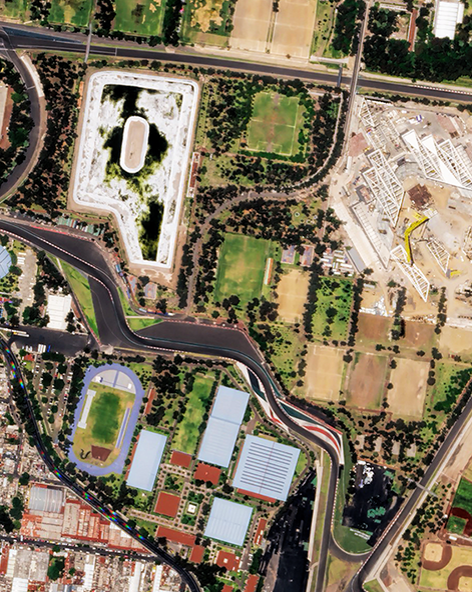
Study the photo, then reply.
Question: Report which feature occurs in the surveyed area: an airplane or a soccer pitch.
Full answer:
Looking from above, you can make out a soccer pitch.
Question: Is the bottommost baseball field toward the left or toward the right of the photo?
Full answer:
The bottommost baseball field sits on the right side.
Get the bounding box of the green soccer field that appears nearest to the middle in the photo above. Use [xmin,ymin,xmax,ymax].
[216,233,271,304]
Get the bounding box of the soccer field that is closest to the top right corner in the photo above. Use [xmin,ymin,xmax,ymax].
[271,0,317,58]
